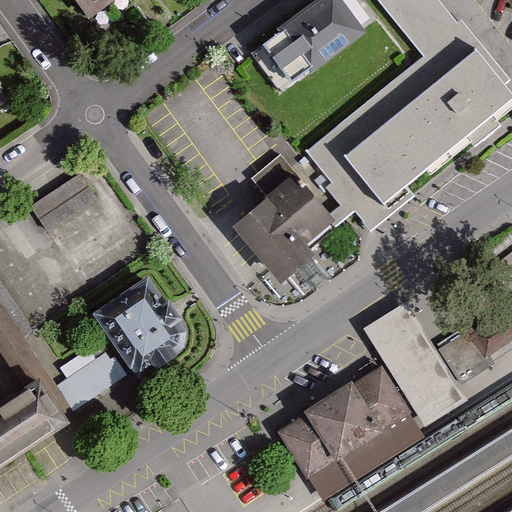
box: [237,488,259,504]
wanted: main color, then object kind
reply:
red car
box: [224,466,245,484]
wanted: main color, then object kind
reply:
red car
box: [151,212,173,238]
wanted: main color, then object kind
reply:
white vehicle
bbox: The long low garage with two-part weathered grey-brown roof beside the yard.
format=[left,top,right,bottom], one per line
[34,177,96,230]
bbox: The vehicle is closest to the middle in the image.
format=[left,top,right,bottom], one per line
[168,236,189,260]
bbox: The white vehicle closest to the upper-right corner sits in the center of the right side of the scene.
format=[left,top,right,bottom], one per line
[426,199,451,216]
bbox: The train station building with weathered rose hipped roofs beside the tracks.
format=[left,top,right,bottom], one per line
[278,366,425,502]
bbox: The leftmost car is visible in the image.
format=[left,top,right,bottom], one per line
[2,146,26,164]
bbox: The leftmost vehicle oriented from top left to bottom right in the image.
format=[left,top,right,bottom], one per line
[34,50,51,70]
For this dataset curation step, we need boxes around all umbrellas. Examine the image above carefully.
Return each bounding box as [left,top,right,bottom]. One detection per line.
[114,0,130,11]
[95,11,110,26]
